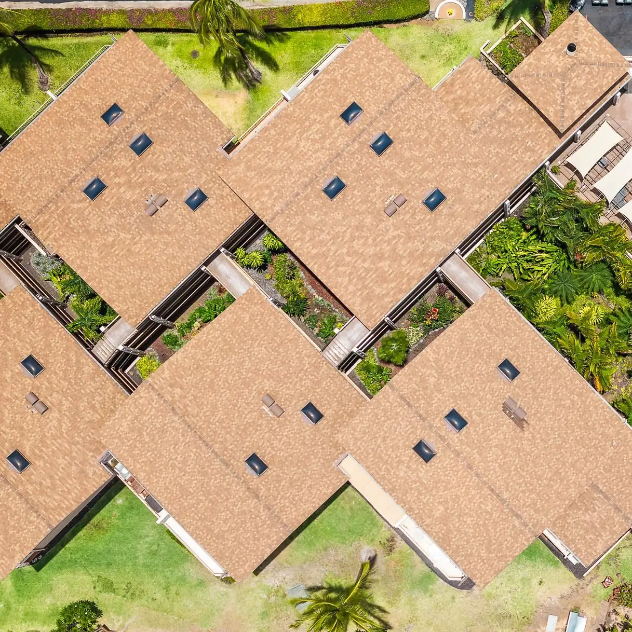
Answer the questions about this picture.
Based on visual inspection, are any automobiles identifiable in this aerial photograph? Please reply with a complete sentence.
No, there's no automobile here.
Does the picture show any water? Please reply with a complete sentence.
No, there is no water in the image.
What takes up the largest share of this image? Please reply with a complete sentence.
Most of the picture is covered by buildings.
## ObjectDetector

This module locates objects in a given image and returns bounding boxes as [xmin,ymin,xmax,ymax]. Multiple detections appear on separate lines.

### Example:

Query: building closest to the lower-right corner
[332,286,632,589]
